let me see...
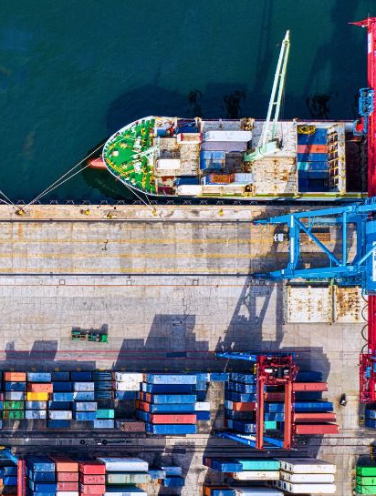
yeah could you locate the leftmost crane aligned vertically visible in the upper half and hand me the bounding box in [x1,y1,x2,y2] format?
[237,28,292,168]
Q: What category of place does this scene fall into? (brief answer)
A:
port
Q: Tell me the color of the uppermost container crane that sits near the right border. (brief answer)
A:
blue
